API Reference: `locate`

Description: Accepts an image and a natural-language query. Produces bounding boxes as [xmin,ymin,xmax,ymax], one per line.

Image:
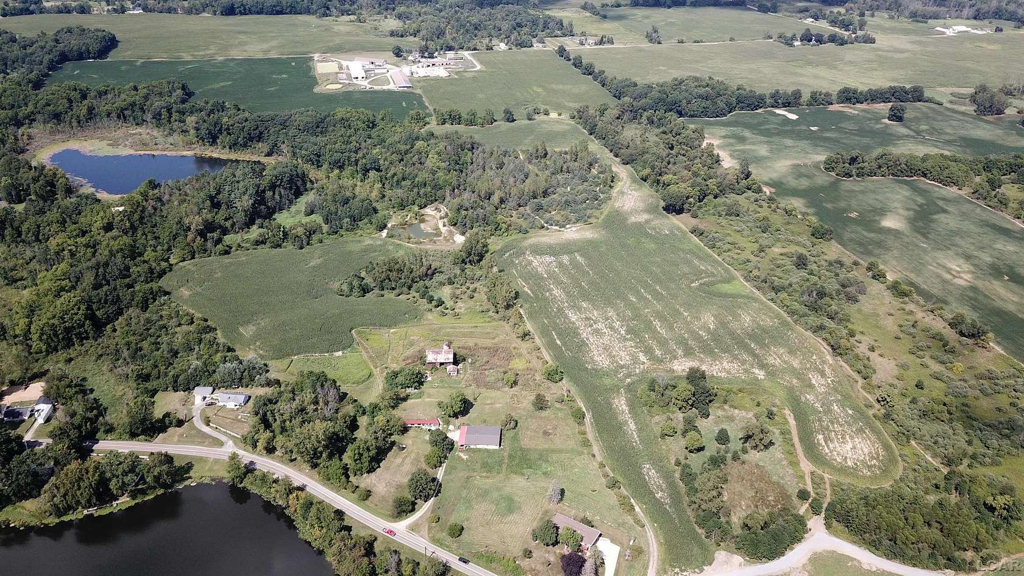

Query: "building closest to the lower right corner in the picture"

[547,511,601,557]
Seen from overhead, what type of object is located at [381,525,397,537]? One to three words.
vehicle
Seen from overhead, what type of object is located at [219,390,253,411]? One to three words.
house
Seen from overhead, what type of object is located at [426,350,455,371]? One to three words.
barn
